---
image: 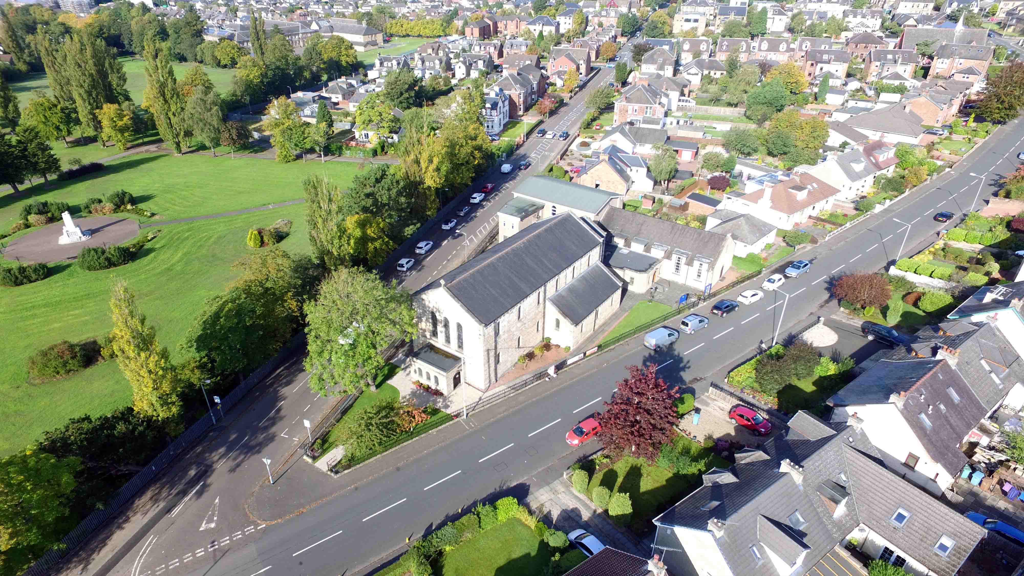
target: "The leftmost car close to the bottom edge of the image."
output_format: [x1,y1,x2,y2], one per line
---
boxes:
[563,518,610,554]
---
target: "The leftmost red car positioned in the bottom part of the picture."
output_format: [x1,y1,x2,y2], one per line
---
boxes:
[565,414,600,444]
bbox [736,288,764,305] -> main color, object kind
white car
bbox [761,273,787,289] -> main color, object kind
white car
